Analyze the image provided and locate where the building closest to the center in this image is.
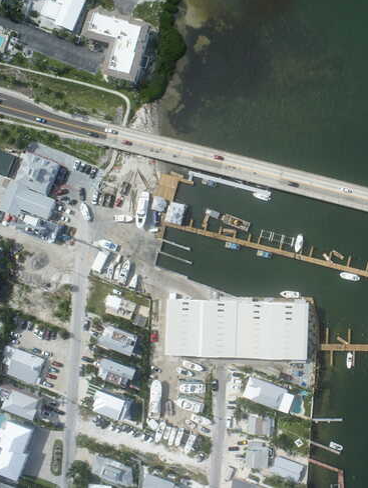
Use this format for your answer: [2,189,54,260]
[165,202,186,225]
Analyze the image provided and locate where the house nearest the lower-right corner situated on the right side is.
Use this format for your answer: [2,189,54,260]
[272,454,306,482]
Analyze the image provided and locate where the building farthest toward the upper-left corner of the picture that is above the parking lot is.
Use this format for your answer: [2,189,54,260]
[41,0,88,32]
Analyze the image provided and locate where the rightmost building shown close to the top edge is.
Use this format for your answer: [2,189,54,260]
[81,5,156,85]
